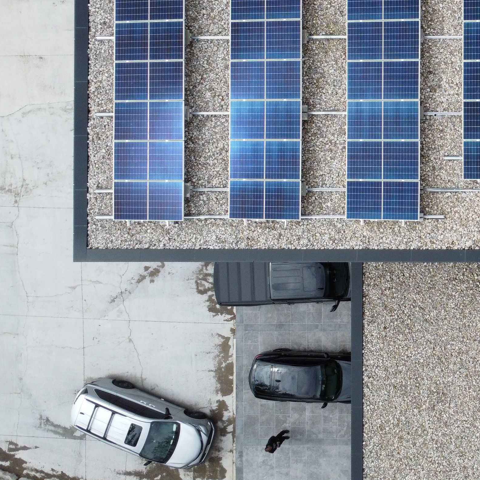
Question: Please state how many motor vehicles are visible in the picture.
three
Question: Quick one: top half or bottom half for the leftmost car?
bottom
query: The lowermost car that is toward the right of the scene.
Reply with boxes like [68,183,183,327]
[248,347,351,414]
